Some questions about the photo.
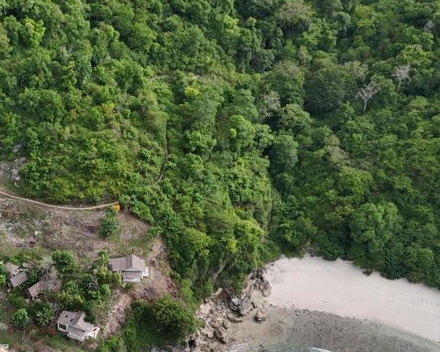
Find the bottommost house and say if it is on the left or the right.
left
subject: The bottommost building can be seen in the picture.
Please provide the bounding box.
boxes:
[50,308,96,346]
